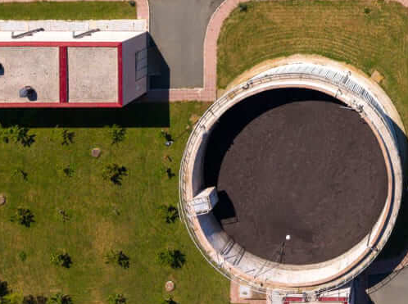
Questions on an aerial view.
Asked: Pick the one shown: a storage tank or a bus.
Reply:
storage tank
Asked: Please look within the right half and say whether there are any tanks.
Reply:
Yes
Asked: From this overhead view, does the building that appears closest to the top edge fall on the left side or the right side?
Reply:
left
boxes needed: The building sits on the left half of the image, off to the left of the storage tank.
[0,29,146,108]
